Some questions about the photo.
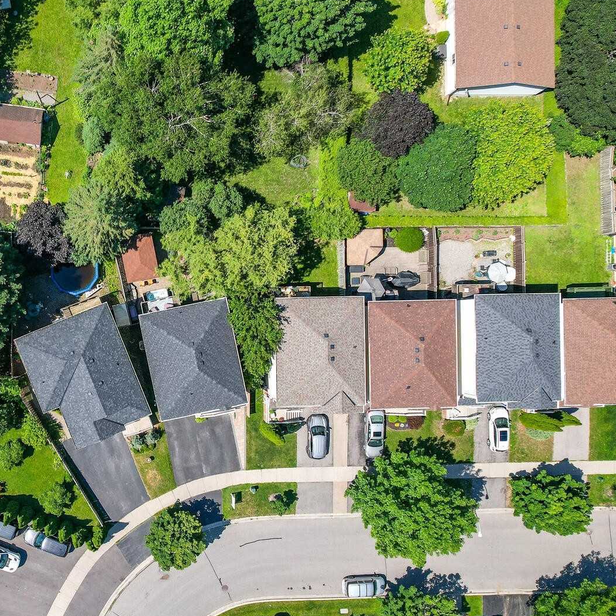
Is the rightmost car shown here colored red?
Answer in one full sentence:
No, the rightmost car is actually white.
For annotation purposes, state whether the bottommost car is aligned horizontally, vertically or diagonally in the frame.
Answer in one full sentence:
From this overhead view, the bottommost car appears to run horizontally.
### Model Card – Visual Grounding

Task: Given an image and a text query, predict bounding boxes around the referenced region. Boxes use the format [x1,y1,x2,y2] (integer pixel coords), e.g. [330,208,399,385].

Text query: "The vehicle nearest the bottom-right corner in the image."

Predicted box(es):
[486,406,512,452]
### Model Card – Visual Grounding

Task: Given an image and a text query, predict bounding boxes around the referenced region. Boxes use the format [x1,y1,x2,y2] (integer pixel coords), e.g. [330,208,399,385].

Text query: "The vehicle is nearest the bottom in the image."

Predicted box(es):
[340,575,385,597]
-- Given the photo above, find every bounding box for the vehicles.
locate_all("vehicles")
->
[365,410,386,457]
[0,516,22,543]
[23,527,71,559]
[486,406,512,452]
[340,575,385,597]
[0,545,22,571]
[308,412,331,459]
